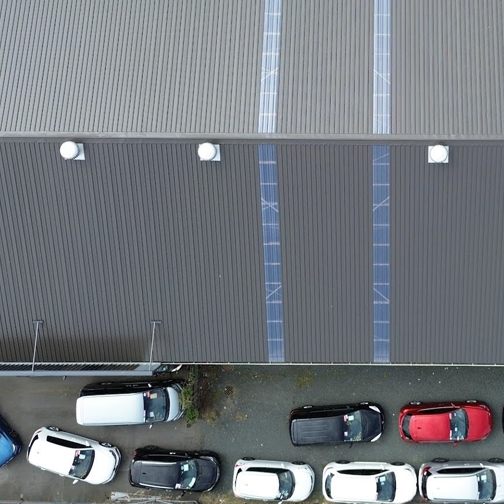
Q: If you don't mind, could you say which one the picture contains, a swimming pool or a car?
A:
car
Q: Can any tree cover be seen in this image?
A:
No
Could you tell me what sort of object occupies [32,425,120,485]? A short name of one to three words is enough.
car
